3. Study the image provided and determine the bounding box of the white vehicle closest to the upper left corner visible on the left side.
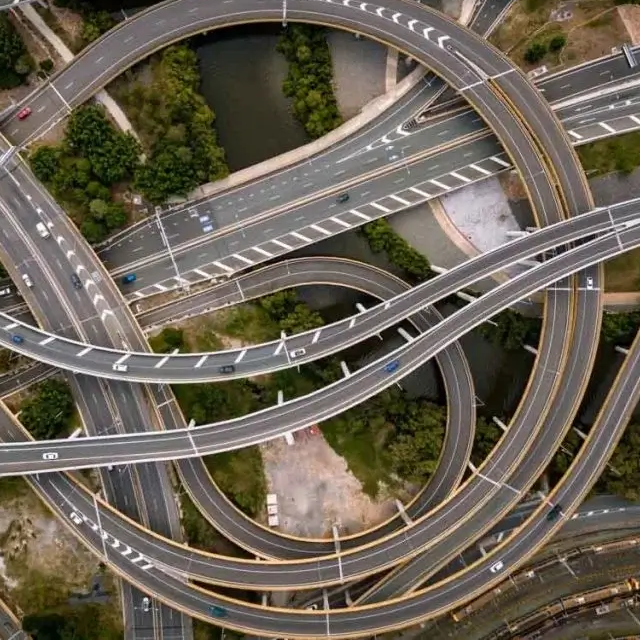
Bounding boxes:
[35,223,47,237]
